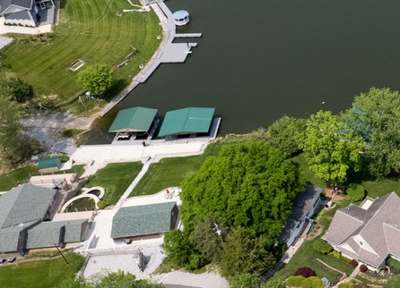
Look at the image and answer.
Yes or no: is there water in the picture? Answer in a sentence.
Yes, there's water in this view.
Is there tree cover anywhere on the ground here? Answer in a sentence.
Yes, tree cover can be seen from above here.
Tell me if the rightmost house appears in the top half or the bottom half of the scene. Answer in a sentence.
The bottom half of the photo is where the rightmost house is.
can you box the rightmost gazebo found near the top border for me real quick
[169,4,189,24]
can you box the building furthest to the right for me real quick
[319,189,400,288]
